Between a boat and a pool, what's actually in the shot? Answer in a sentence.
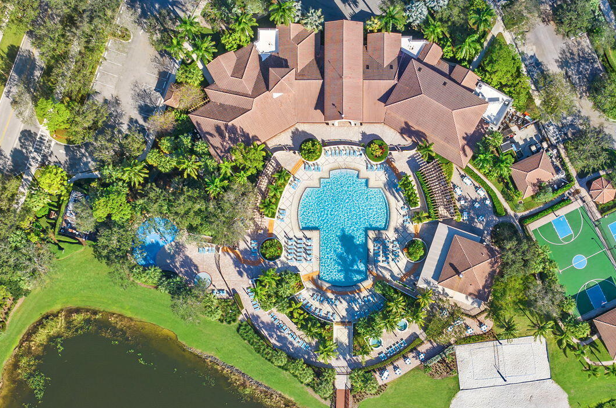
Looking from above, you can make out a pool.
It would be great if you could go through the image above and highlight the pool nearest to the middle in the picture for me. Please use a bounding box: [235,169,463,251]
[294,162,391,287]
